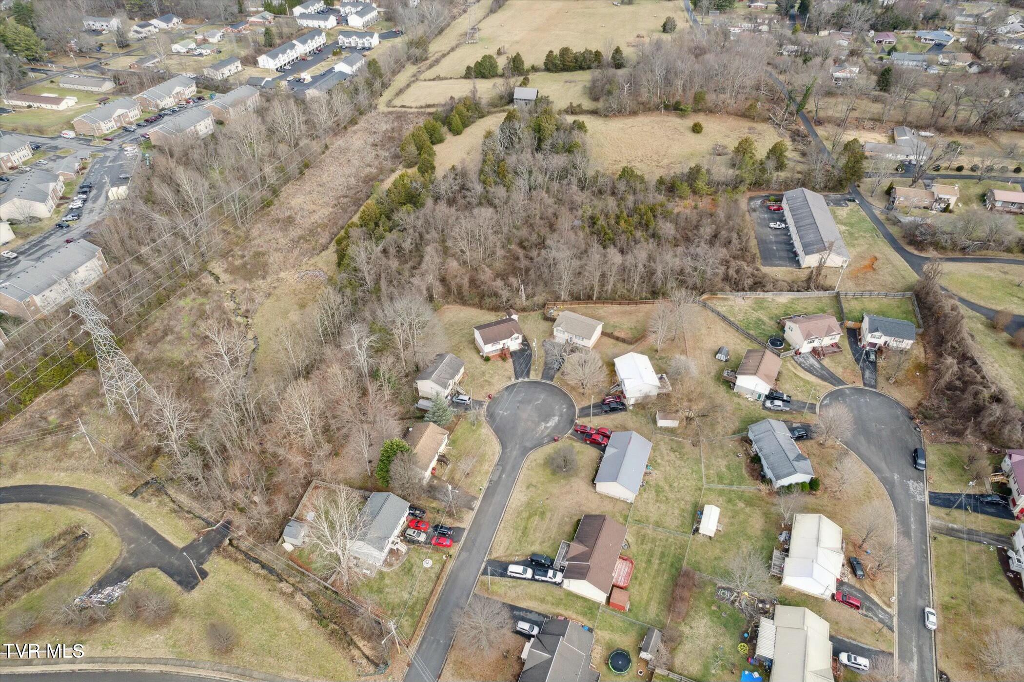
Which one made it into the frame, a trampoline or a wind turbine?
trampoline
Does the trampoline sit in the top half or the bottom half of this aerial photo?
bottom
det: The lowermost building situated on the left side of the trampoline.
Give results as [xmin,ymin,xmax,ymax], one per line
[510,616,594,682]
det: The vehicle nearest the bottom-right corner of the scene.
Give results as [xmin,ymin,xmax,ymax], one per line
[924,605,938,631]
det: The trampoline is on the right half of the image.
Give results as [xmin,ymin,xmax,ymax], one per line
[607,645,633,675]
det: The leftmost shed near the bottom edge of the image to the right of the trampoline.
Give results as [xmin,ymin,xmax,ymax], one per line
[641,627,663,662]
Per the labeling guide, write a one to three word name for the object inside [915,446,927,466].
vehicle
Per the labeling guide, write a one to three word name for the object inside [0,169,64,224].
building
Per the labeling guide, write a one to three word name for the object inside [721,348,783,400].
house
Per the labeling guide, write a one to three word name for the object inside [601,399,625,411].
vehicle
